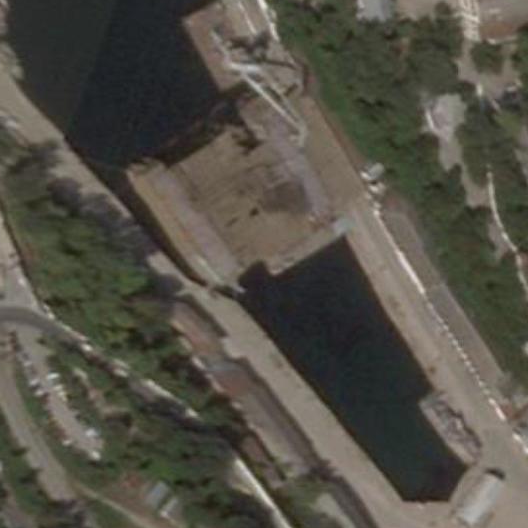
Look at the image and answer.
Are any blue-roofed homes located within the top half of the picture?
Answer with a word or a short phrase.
No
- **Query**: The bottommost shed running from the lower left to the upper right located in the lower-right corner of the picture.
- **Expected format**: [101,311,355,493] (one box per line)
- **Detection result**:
[455,471,505,528]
